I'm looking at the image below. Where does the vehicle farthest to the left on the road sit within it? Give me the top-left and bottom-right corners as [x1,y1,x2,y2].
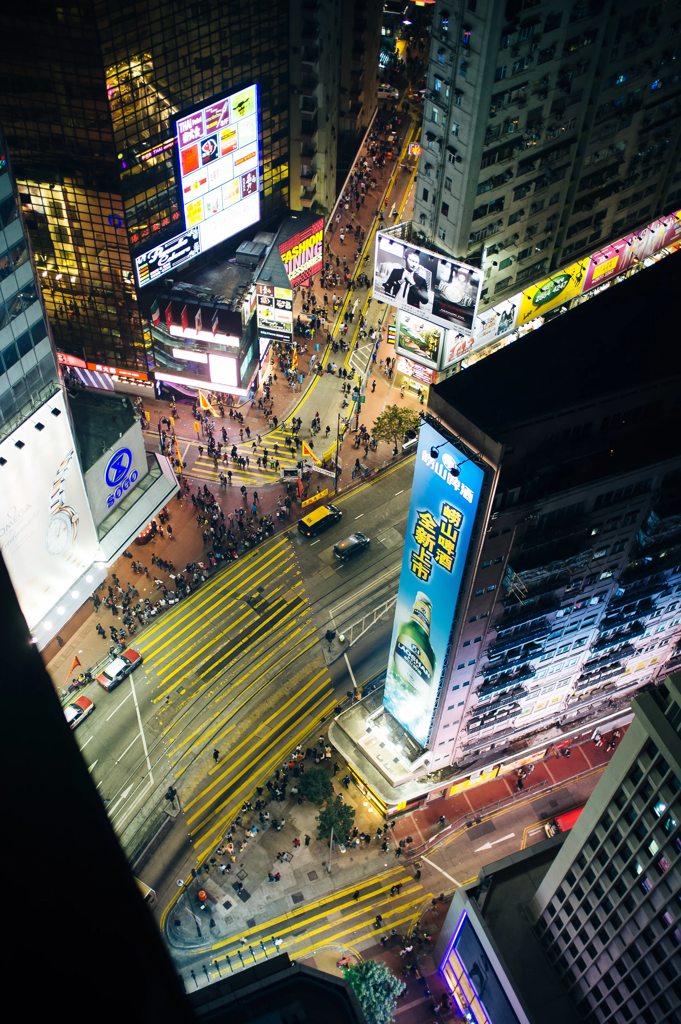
[69,693,101,727]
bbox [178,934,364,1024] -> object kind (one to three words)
building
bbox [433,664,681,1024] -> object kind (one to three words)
building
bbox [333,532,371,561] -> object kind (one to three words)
car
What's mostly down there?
buildings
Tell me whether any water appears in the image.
No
